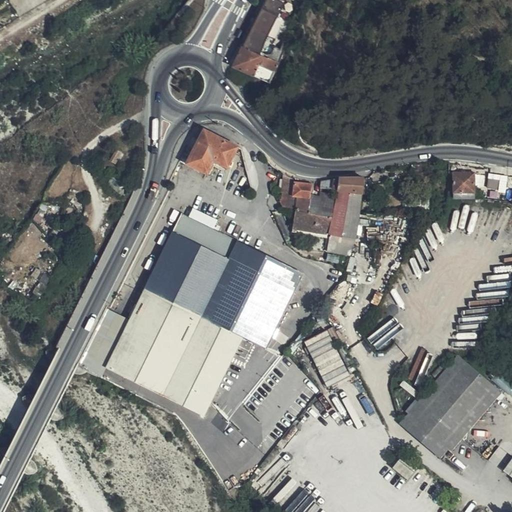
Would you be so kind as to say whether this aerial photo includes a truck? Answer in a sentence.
Yes, there's a truck down there.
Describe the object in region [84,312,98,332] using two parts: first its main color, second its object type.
white vehicle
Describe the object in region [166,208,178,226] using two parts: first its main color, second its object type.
white vehicle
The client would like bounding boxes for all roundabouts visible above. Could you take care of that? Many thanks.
[150,48,224,121]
